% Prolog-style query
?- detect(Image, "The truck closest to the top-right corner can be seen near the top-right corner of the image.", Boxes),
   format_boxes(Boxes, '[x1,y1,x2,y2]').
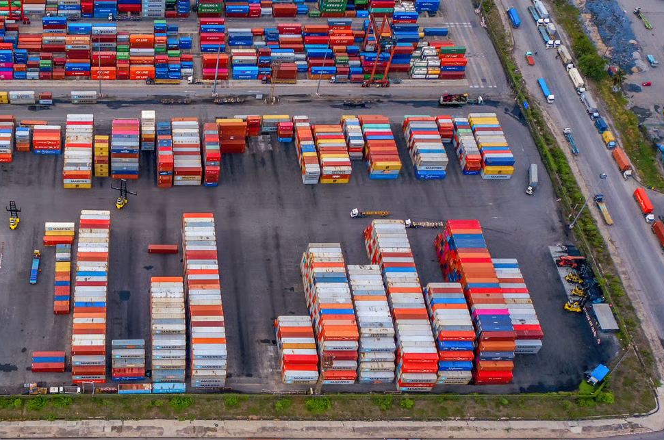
[631,6,653,28]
